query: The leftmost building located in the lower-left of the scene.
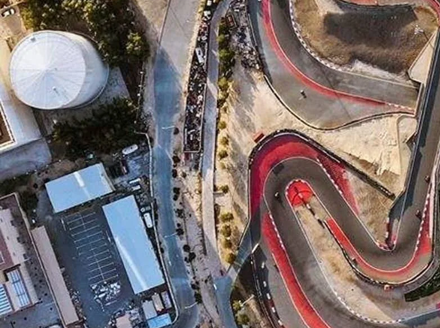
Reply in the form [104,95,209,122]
[0,208,44,316]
